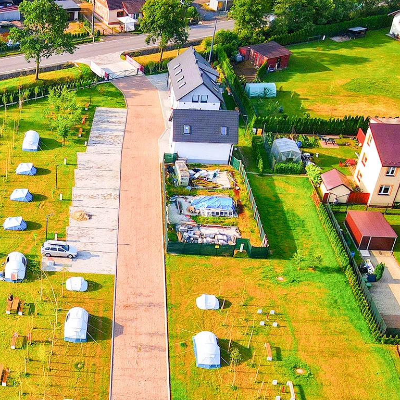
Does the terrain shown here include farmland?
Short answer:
Yes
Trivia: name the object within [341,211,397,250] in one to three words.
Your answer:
building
